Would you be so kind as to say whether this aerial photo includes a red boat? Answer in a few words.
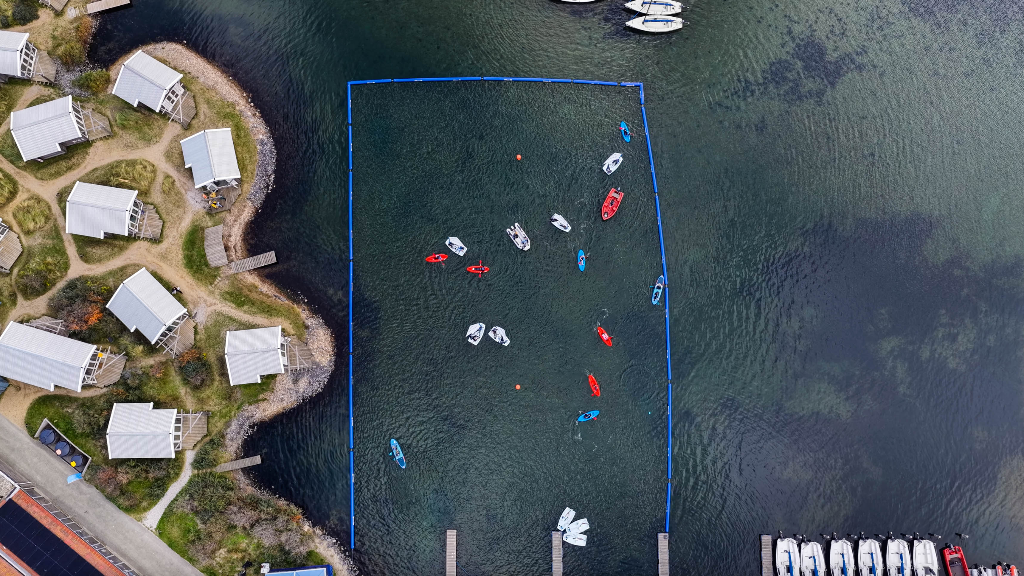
Yes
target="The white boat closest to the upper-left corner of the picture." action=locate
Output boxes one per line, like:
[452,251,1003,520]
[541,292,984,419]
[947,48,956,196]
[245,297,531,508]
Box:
[445,237,467,256]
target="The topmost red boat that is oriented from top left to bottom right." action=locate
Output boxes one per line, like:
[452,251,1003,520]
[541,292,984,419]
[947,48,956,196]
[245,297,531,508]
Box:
[597,327,612,347]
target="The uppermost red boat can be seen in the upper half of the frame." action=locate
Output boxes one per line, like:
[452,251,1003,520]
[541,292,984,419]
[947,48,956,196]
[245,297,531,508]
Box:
[602,186,624,221]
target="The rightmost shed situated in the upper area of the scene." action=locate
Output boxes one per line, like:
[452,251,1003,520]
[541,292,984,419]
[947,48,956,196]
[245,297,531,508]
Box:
[180,128,250,217]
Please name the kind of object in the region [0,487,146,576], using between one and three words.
building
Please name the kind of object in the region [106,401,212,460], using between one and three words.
shed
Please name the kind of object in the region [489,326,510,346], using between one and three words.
boat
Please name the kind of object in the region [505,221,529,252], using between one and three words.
boat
